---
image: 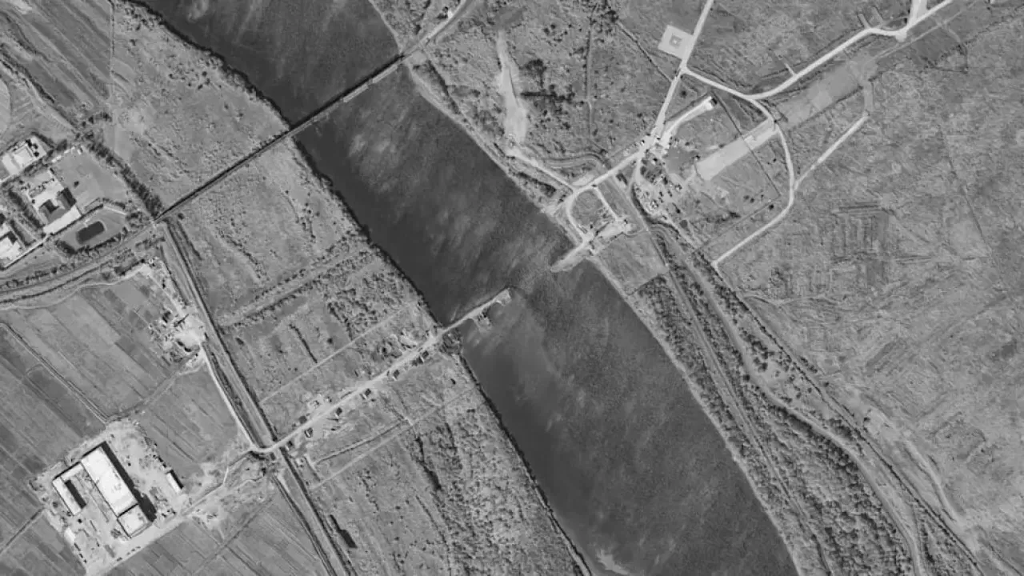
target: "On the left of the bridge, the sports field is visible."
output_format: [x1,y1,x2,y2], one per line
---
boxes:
[57,152,125,206]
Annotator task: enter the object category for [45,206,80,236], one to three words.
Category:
building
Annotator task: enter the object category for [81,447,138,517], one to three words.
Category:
shed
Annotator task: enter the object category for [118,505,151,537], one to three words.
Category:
building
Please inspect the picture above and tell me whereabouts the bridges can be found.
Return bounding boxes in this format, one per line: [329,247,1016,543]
[157,39,439,220]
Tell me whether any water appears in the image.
Yes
